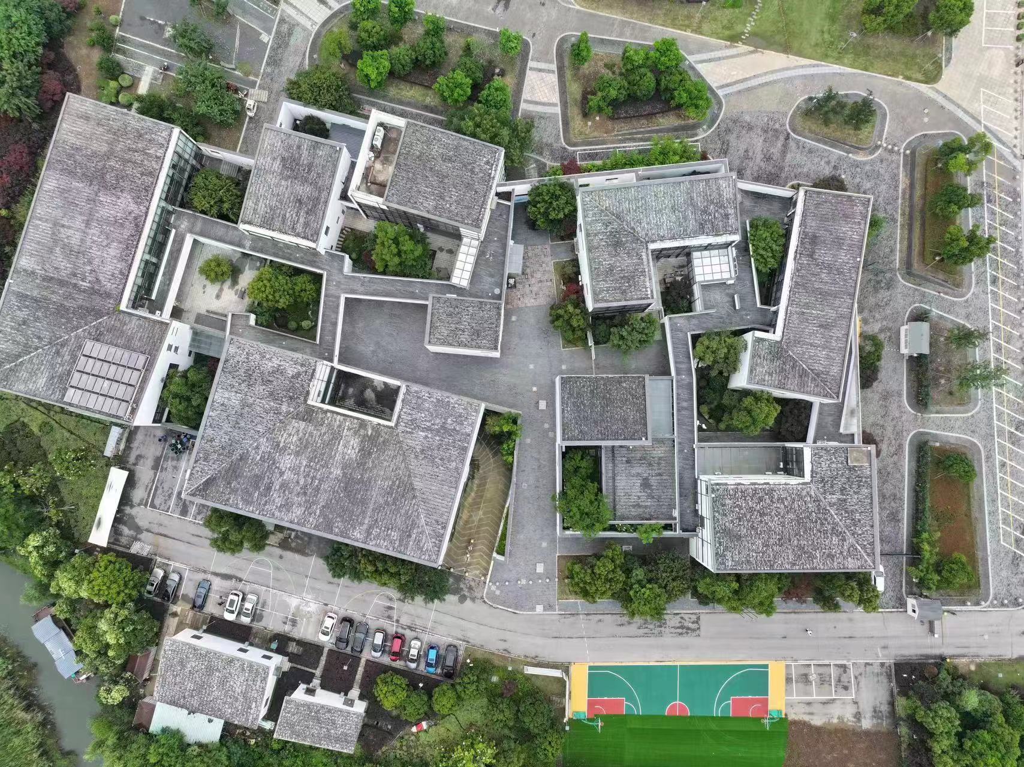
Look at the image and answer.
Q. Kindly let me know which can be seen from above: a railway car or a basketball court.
basketball court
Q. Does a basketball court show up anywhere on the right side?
Yes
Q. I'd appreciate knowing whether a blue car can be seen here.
Yes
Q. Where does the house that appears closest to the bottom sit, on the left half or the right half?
left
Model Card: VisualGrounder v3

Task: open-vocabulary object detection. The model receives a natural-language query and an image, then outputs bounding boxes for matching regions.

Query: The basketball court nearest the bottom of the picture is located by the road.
[588,665,769,716]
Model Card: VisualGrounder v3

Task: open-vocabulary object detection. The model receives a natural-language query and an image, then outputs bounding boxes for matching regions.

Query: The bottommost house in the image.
[274,684,371,754]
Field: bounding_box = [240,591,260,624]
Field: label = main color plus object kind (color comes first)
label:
white car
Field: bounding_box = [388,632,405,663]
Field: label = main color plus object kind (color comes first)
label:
red car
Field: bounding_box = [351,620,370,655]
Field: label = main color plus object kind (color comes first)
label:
gray car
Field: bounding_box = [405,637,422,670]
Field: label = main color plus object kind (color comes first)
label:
white car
